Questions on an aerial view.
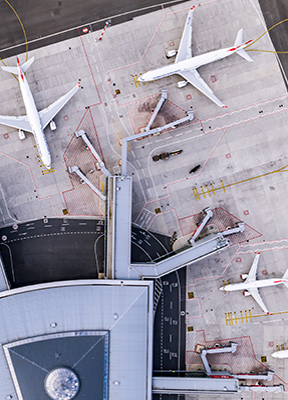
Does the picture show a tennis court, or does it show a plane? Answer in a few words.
plane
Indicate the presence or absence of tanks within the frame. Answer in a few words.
No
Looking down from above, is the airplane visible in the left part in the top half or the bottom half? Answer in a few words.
top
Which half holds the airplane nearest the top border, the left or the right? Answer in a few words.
right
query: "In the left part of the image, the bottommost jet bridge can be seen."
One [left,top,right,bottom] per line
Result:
[68,165,107,202]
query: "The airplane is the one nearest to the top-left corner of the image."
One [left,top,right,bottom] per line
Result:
[0,55,82,168]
